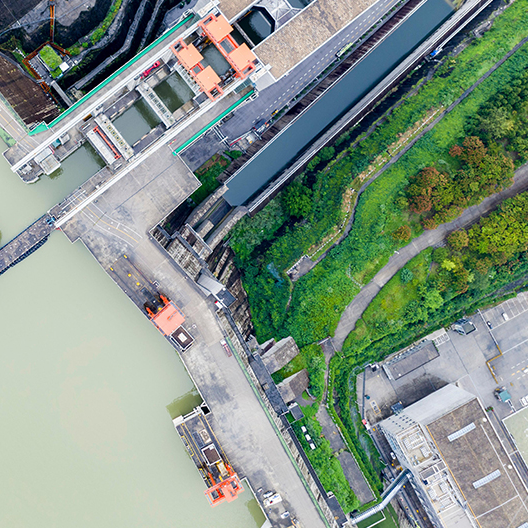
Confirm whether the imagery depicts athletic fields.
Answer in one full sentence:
No, there is no athletic field in the image.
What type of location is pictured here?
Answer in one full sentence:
The area seen from above is a port.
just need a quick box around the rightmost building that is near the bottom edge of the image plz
[378,385,528,528]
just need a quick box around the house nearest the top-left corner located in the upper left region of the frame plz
[38,44,70,79]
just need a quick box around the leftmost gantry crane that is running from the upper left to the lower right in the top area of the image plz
[165,37,223,105]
